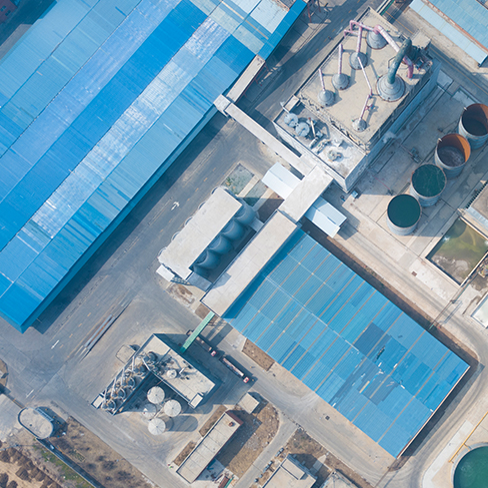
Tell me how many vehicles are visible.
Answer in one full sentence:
My tally gives 2 vehicles in this view.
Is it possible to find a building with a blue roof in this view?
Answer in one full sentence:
Yes, you can see a building with a blue roof in this photo.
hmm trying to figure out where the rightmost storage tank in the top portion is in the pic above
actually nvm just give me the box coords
[458,104,488,148]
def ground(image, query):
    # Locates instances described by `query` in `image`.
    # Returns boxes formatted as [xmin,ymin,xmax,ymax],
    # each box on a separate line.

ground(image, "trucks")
[183,330,217,358]
[219,355,249,384]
